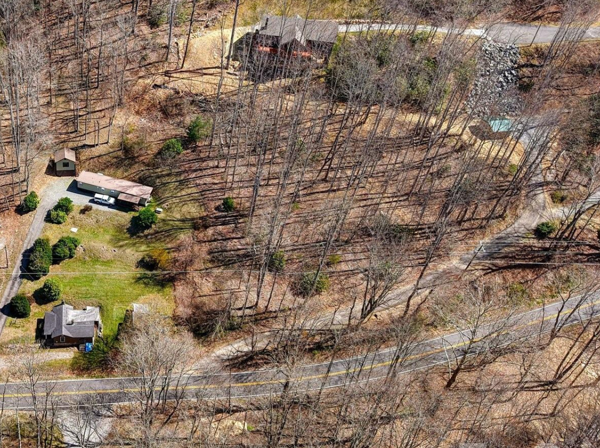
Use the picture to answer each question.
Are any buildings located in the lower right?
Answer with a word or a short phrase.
No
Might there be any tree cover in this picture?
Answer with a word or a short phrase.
Yes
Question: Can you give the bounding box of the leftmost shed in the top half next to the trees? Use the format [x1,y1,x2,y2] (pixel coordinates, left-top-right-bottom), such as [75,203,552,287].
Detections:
[54,145,80,176]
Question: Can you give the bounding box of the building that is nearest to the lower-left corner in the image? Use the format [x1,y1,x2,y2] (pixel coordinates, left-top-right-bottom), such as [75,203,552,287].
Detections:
[42,302,101,347]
